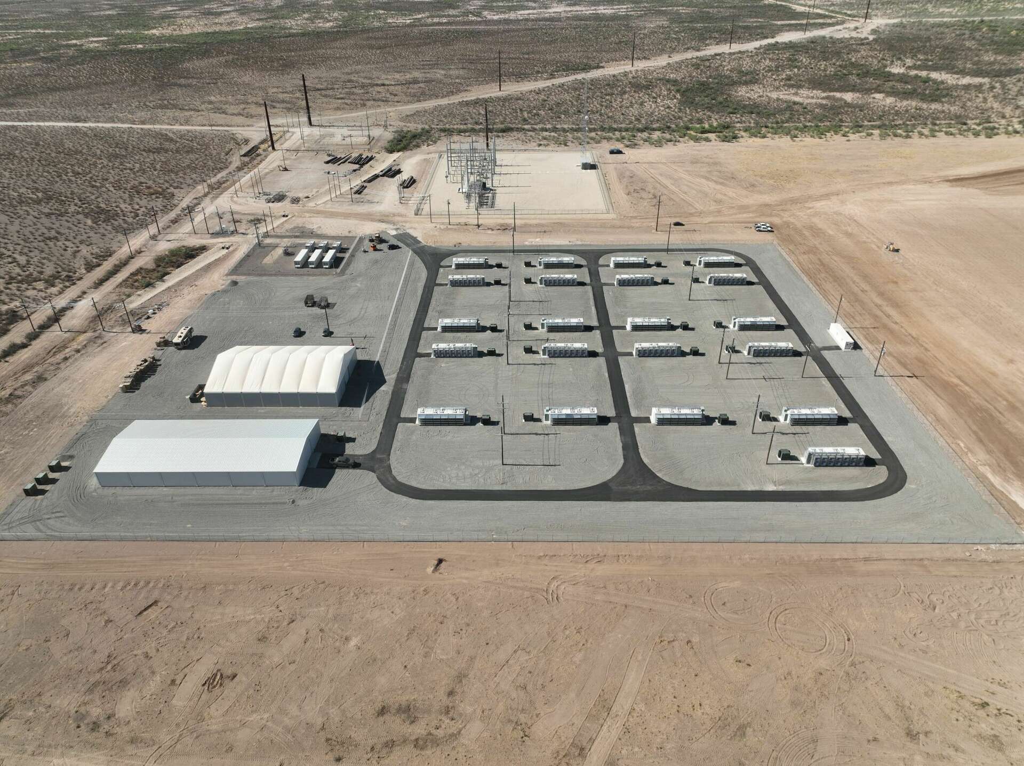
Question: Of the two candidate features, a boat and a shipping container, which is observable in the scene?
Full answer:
This aerial view contains a shipping container.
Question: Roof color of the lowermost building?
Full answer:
From above, the roof of the lowermost building looks white.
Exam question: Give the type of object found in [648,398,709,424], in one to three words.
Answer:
shipping container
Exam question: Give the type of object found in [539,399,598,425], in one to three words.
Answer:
shipping container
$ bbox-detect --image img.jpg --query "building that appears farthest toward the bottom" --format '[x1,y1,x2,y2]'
[91,419,321,486]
